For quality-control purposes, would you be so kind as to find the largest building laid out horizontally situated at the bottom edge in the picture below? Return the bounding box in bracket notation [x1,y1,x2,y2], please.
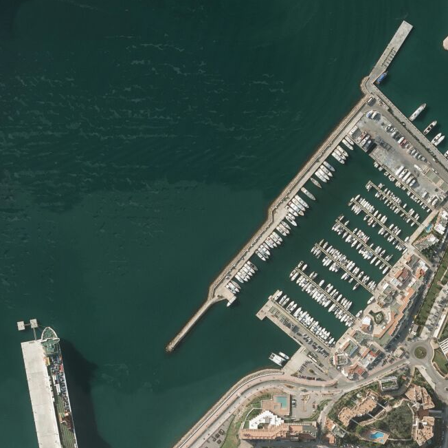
[241,422,317,440]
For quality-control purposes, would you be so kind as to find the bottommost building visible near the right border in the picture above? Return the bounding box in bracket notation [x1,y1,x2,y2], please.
[413,417,435,446]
